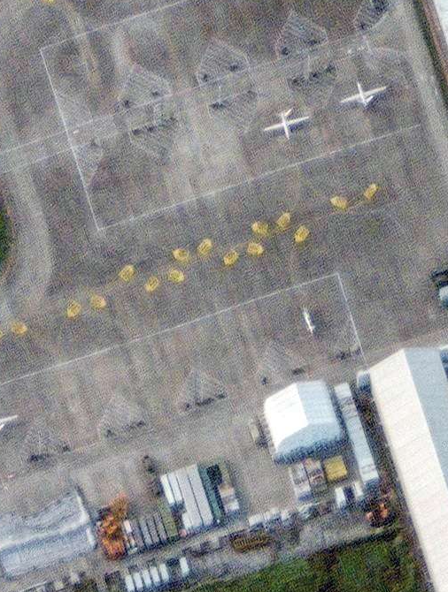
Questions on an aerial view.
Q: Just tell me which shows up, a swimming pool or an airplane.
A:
airplane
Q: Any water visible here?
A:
No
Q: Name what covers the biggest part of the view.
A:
paved ground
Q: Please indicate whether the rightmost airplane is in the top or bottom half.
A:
top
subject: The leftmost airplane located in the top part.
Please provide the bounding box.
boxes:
[261,110,308,139]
